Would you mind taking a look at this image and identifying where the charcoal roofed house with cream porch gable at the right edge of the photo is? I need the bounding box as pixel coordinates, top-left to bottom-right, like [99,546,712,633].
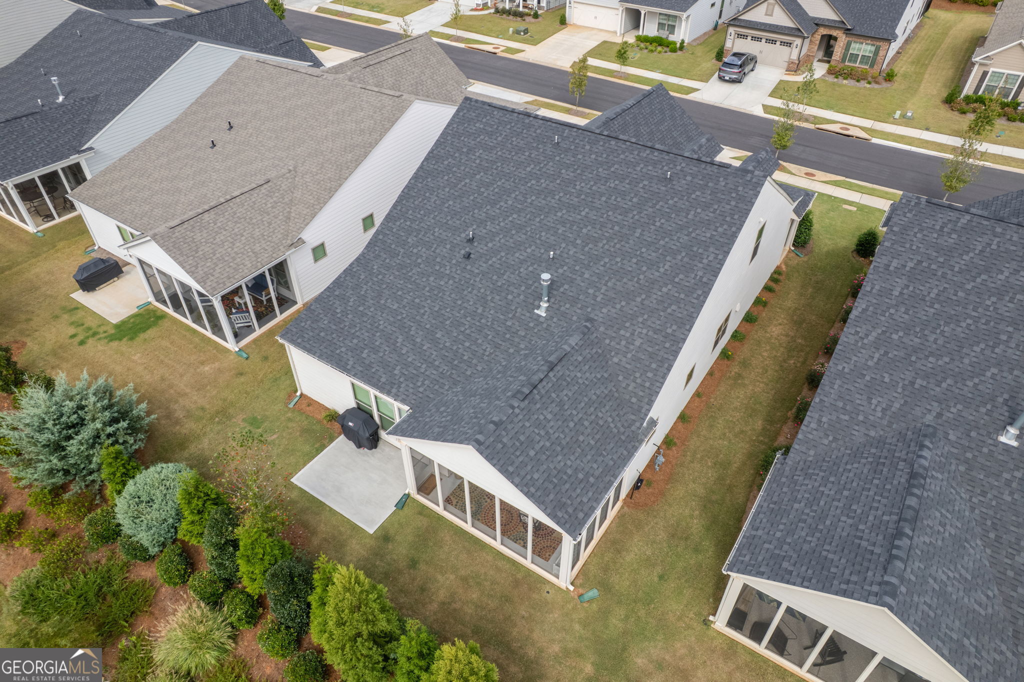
[701,183,1024,682]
